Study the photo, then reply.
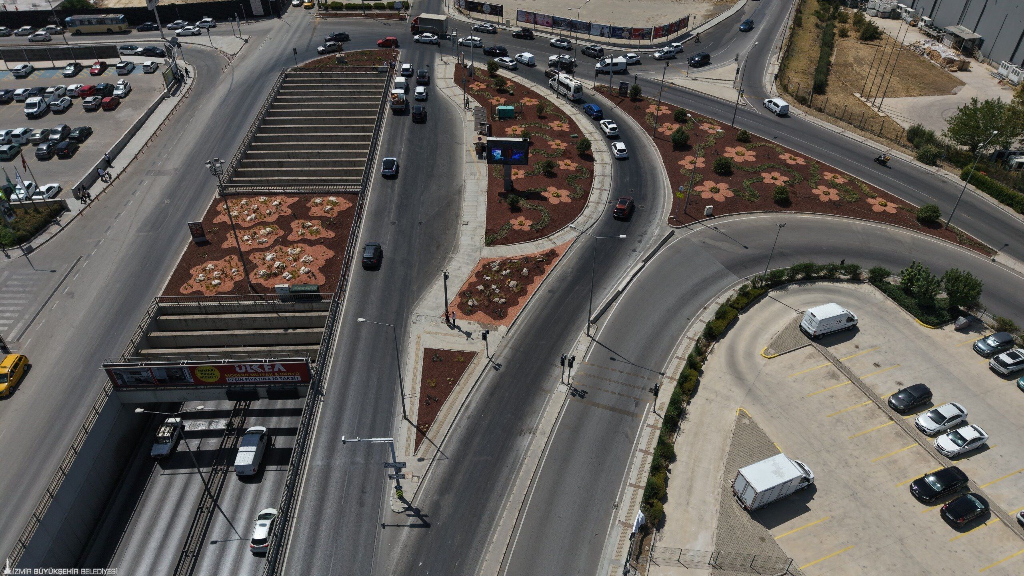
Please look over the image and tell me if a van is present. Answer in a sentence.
Yes, I can see a van in this picture.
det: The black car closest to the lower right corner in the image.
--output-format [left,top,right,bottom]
[935,491,993,529]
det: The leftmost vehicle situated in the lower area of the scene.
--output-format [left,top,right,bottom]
[0,351,34,397]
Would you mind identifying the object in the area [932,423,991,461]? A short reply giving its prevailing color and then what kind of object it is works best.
white car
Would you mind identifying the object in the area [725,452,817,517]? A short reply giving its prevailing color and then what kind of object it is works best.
white truck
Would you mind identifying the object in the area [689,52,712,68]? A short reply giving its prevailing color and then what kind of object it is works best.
black car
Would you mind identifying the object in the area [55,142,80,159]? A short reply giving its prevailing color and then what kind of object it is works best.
black car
